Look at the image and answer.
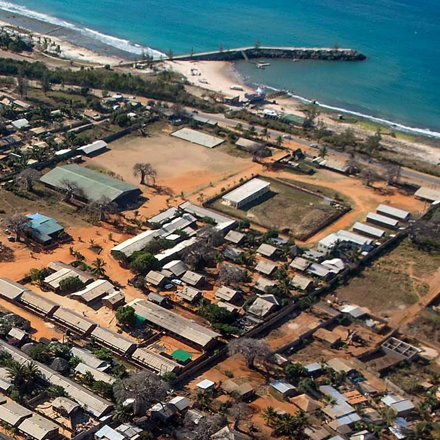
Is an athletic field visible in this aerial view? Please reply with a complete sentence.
Yes, there's an athletic field here.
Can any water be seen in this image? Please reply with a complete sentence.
Yes, there's water in this view.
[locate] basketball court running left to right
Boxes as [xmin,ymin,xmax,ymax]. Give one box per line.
[170,127,224,148]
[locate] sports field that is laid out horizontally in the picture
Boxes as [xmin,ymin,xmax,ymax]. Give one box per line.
[83,121,266,196]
